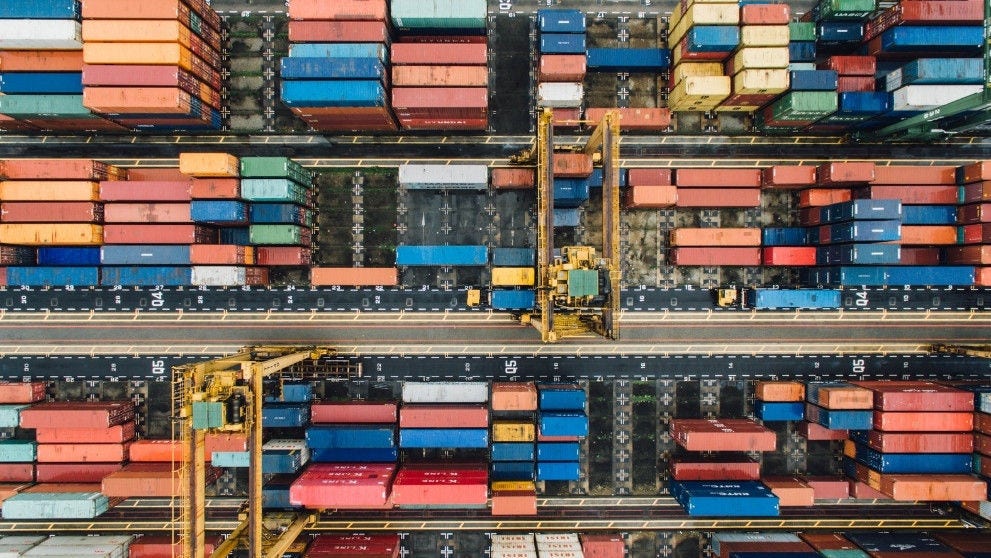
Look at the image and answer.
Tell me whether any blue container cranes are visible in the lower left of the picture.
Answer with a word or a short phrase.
No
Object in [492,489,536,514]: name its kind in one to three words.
shipping container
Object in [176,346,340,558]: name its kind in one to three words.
container crane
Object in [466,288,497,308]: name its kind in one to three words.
vehicle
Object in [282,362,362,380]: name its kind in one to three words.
trailer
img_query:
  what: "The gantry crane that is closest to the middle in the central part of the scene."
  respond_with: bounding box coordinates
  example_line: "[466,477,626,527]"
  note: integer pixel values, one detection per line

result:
[504,108,620,342]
